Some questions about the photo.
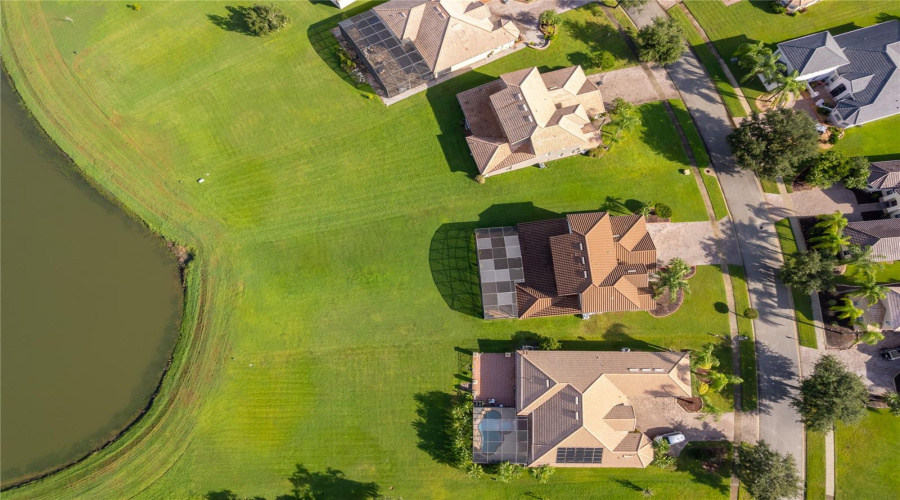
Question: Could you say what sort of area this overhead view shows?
residential area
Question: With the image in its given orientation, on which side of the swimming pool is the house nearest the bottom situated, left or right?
right of it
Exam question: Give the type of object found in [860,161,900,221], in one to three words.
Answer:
house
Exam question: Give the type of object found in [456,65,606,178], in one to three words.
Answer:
house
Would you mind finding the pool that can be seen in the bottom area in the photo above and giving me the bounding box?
[477,409,516,452]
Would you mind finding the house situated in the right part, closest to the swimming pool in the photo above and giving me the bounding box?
[516,350,693,467]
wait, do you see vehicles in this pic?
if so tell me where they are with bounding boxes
[653,431,686,446]
[879,346,900,360]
